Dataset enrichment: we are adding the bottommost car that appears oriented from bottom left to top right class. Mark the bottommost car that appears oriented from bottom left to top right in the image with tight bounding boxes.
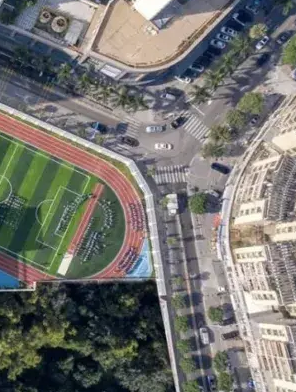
[170,115,188,131]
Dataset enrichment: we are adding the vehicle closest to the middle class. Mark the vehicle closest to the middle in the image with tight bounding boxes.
[166,193,179,218]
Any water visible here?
No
